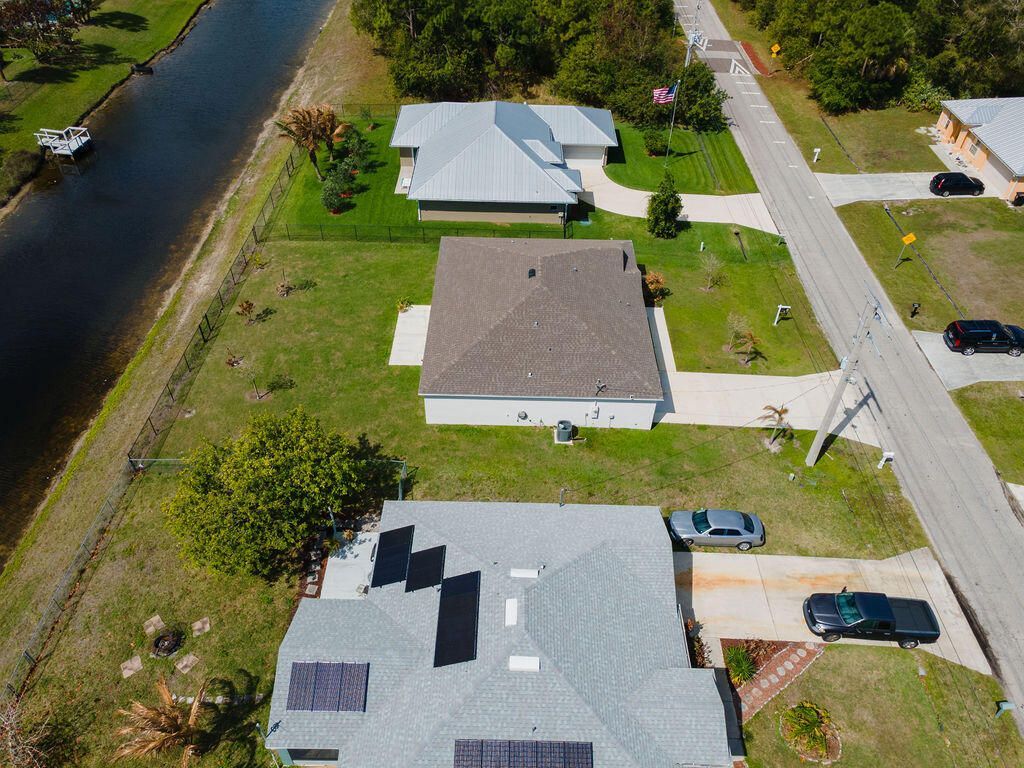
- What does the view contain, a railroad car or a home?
home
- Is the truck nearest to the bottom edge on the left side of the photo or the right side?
right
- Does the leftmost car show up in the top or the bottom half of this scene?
bottom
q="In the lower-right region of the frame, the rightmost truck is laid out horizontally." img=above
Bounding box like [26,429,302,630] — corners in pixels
[797,580,941,644]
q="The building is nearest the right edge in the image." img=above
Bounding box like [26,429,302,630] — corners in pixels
[940,99,1024,198]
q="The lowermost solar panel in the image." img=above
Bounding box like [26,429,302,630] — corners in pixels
[453,737,594,768]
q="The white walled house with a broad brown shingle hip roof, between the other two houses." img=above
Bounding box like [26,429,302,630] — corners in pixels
[416,236,663,428]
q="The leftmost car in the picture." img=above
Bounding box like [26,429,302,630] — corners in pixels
[669,505,767,554]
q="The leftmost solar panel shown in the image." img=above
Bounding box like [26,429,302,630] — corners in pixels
[285,659,370,712]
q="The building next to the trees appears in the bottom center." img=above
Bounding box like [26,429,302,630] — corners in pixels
[264,492,732,768]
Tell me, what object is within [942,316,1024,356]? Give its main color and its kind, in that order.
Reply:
black car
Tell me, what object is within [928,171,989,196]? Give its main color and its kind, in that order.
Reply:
black car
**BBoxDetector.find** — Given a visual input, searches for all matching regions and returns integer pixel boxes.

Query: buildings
[264,492,732,768]
[388,100,617,227]
[940,99,1024,198]
[416,236,663,428]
